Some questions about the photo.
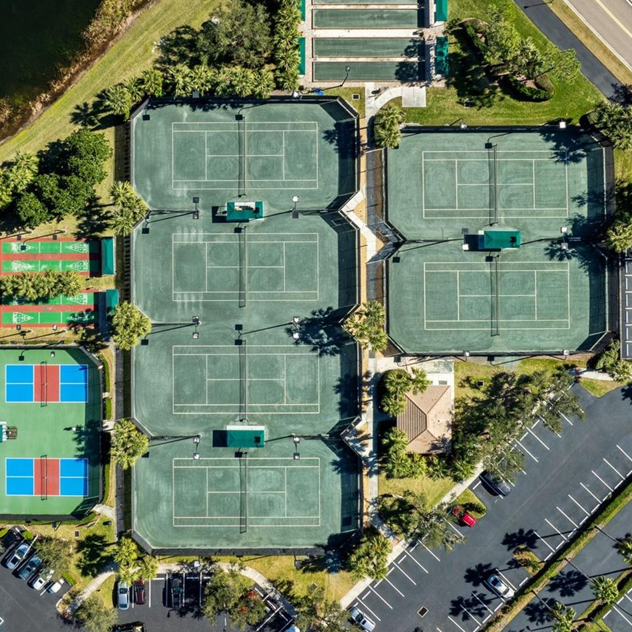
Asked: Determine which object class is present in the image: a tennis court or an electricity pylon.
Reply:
tennis court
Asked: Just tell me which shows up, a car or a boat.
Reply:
car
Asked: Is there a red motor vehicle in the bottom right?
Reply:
Yes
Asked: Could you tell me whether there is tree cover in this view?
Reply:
Yes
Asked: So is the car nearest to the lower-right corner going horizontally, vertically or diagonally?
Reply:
diagonally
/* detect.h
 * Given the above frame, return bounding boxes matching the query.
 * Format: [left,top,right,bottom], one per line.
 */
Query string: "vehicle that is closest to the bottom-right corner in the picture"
[486,573,514,600]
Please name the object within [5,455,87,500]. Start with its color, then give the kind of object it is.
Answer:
blue sports court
